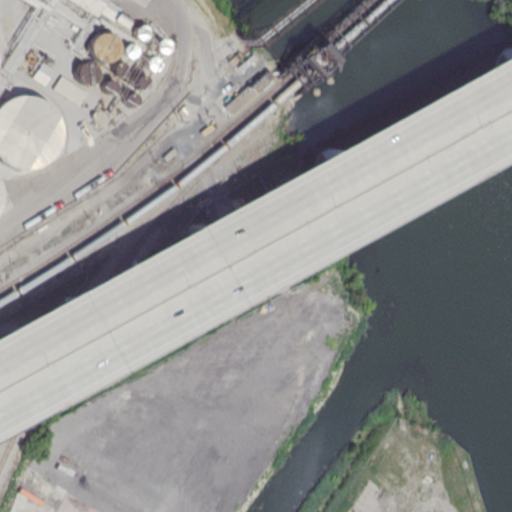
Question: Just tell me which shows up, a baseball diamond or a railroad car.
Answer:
railroad car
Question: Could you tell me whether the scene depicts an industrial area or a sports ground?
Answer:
industrial area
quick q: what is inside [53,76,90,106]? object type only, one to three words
building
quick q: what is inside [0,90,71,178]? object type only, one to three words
storage tank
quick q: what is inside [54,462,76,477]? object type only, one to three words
vehicle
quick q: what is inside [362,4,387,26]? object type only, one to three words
rail car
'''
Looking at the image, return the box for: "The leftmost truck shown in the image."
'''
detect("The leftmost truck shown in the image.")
[22,202,62,229]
